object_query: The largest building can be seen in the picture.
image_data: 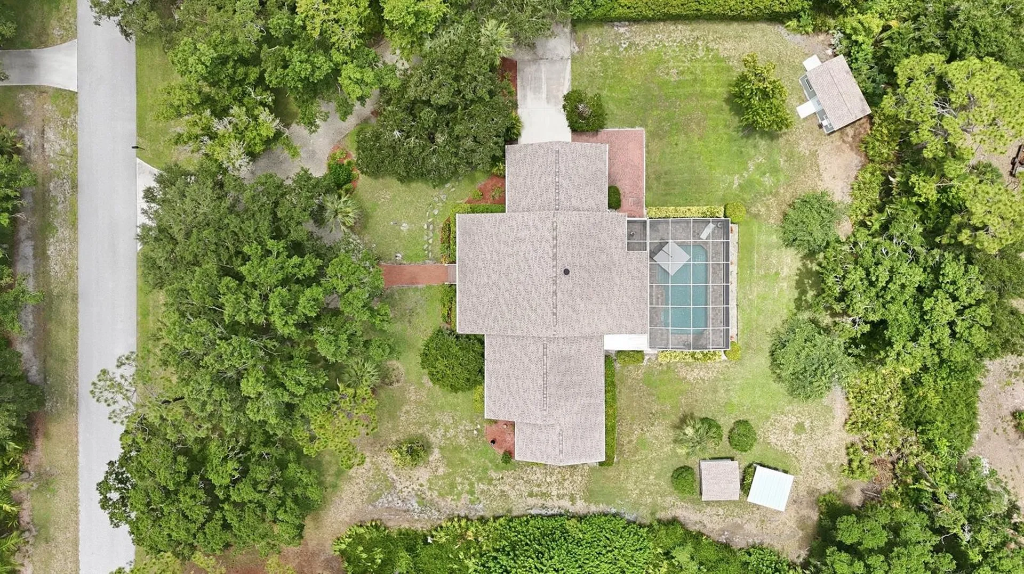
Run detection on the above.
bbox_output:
[456,140,650,464]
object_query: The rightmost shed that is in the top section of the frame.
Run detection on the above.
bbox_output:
[798,53,872,133]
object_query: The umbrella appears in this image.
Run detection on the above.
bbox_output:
[653,241,690,276]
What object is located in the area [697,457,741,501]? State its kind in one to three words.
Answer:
shed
